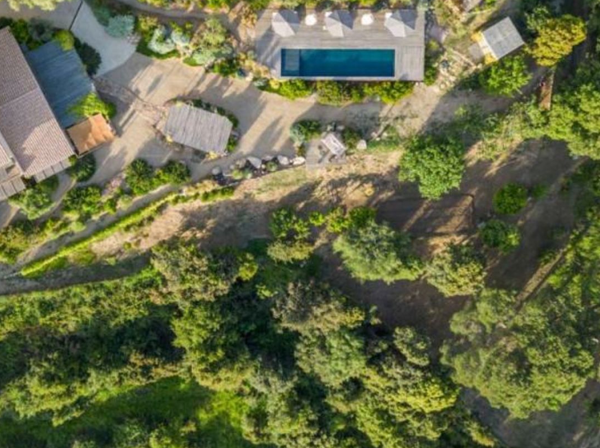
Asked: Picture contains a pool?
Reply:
Yes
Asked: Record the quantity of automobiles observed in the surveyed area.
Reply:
0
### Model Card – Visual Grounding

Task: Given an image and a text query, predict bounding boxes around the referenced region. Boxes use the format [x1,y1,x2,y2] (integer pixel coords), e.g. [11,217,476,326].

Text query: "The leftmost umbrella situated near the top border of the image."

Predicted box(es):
[271,8,302,38]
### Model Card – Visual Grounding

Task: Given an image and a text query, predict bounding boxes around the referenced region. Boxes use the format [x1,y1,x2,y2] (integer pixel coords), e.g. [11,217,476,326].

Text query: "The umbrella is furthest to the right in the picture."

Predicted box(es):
[385,8,414,39]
